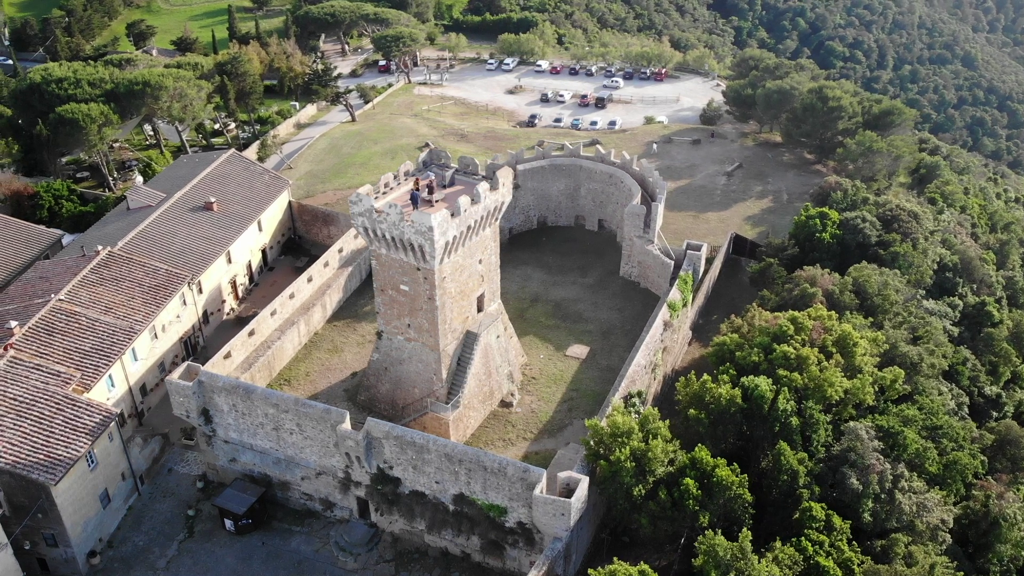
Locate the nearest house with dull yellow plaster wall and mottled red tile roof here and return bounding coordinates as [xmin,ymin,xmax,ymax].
[0,368,138,565]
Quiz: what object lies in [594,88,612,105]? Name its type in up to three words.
vehicle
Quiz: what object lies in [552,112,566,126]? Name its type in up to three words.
car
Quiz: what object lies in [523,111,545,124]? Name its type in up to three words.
vehicle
